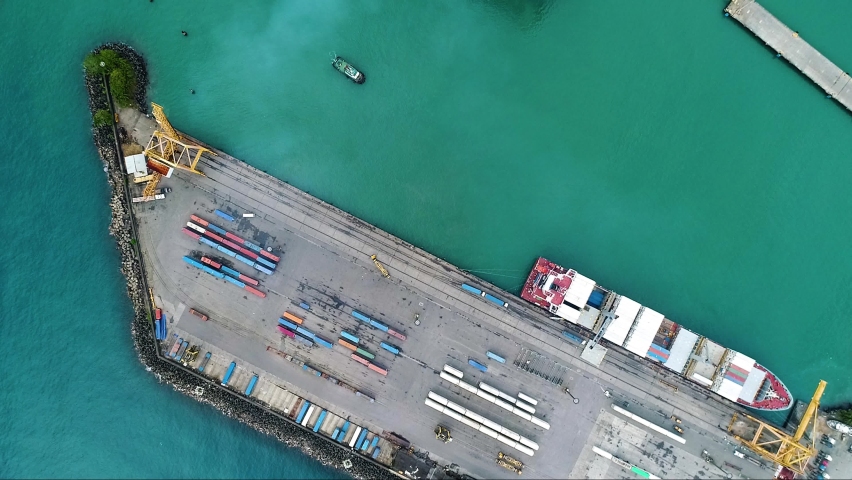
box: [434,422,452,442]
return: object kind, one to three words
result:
work vehicle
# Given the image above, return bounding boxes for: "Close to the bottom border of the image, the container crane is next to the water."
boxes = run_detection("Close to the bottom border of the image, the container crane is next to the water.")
[732,379,828,480]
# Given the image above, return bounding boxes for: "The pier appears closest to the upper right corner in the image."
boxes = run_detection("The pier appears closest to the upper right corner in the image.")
[725,0,852,114]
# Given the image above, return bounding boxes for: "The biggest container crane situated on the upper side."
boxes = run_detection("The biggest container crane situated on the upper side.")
[140,101,220,202]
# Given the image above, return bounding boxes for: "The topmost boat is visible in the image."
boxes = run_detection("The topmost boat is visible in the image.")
[333,58,365,84]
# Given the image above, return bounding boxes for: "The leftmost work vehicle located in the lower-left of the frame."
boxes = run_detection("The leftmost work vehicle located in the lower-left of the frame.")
[181,344,204,364]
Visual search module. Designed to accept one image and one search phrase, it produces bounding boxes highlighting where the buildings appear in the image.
[125,154,151,178]
[392,447,440,480]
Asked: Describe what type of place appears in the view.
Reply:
port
